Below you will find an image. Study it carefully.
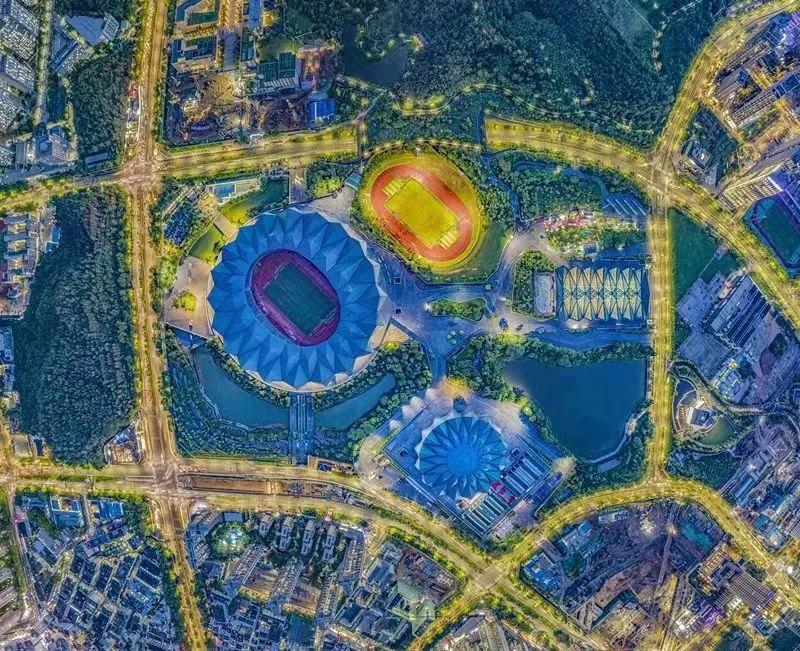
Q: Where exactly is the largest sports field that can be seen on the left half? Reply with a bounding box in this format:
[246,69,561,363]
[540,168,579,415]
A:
[252,252,345,346]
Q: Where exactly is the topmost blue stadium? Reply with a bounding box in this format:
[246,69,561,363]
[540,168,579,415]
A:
[205,204,395,394]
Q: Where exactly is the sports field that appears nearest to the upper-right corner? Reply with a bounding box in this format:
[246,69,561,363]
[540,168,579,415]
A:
[747,191,800,271]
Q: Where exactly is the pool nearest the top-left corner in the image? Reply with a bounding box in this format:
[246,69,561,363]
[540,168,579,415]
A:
[203,178,259,204]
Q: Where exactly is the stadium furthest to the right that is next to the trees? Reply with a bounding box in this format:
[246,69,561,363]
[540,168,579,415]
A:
[414,406,506,499]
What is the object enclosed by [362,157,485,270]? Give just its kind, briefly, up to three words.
running track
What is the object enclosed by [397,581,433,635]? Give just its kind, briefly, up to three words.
building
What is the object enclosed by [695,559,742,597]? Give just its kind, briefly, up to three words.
building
